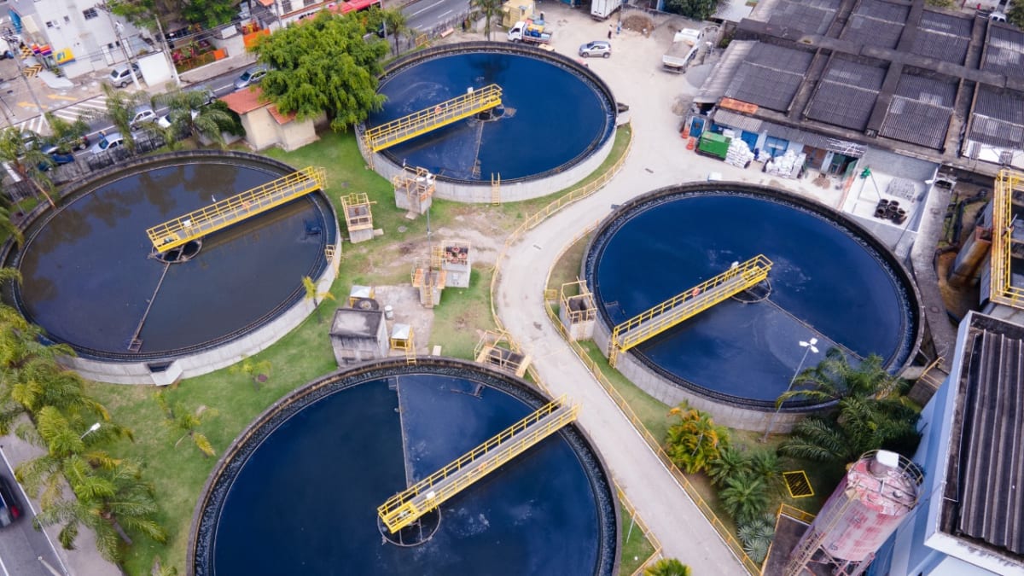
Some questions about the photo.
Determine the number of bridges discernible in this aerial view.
4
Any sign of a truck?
Yes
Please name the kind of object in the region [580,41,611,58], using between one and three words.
car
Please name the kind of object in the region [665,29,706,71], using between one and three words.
truck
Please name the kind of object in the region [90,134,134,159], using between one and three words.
car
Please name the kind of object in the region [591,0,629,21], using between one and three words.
truck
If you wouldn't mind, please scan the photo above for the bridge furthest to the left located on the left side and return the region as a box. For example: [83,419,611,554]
[147,166,327,252]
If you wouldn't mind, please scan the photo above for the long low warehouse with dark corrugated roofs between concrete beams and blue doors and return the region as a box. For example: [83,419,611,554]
[693,0,1024,214]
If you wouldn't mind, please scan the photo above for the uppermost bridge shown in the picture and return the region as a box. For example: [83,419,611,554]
[361,85,502,173]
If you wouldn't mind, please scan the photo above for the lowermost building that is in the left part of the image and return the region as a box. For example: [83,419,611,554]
[328,309,389,368]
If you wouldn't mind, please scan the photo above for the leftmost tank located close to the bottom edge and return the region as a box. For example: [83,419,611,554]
[185,358,625,576]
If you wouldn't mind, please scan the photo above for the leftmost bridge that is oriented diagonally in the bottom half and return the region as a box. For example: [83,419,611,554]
[380,391,580,537]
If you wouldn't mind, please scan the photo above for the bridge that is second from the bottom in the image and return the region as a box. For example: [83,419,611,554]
[607,255,775,373]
